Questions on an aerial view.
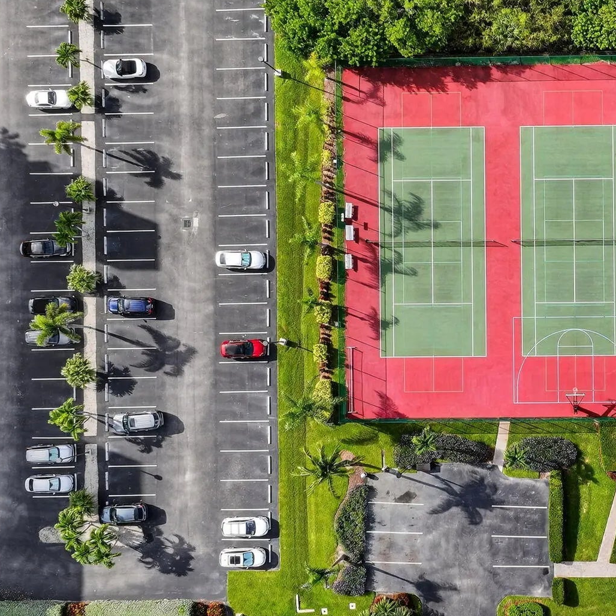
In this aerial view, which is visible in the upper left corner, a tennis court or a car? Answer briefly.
car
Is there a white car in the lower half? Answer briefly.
Yes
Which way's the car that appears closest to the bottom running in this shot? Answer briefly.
from left to right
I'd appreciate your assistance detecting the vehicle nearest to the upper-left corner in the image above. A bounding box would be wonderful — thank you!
[25,89,76,110]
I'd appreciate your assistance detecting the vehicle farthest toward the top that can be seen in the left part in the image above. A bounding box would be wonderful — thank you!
[103,58,147,80]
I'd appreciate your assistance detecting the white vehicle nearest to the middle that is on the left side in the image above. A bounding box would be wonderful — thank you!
[217,249,267,271]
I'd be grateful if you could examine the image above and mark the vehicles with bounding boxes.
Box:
[26,473,77,495]
[103,58,147,80]
[26,443,78,466]
[217,249,267,271]
[107,296,156,318]
[222,515,271,538]
[221,339,270,361]
[219,546,267,569]
[113,411,163,435]
[25,89,76,110]
[101,502,149,525]
[22,237,73,259]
